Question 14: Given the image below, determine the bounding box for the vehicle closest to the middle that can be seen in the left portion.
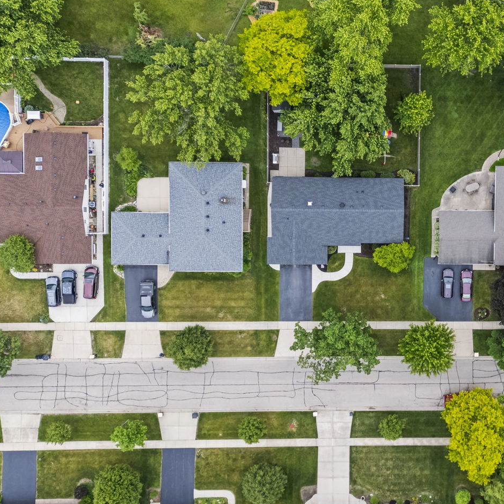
[139,280,156,318]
